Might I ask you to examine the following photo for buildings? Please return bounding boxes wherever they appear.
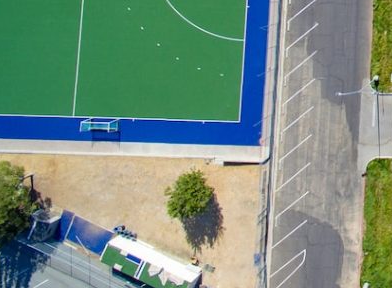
[99,236,205,288]
[18,204,64,247]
